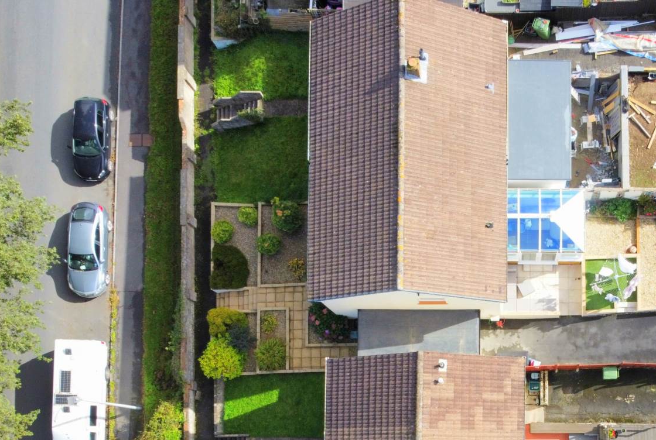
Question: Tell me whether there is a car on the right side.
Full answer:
No, no car appears on the right side.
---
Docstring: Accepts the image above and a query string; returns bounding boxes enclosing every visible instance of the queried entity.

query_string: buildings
[307,0,510,324]
[321,351,527,440]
